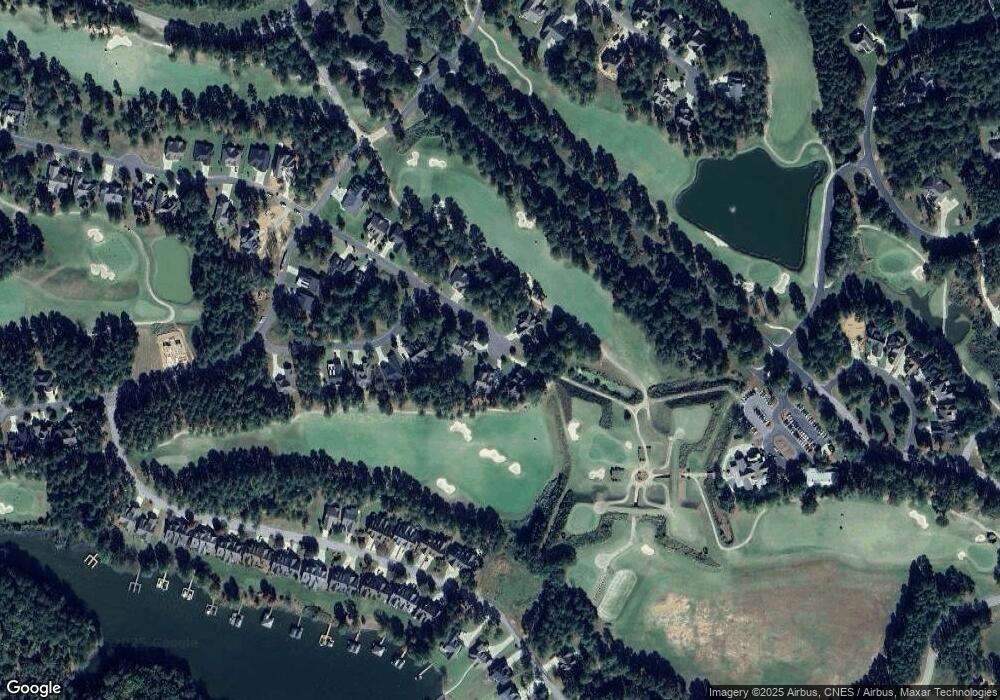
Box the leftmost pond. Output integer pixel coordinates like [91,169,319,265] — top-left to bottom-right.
[152,238,190,301]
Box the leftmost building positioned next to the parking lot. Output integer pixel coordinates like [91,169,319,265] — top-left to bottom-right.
[728,452,774,488]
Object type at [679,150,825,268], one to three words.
pond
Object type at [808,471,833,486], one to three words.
building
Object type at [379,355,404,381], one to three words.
house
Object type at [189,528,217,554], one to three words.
house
